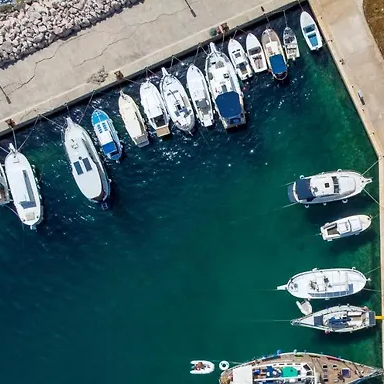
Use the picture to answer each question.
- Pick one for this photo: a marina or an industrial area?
marina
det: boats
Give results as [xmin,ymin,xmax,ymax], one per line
[282,27,302,64]
[219,348,384,384]
[262,27,290,81]
[187,64,218,131]
[300,11,323,55]
[245,32,271,78]
[142,75,172,140]
[59,112,112,209]
[274,266,372,301]
[2,142,43,229]
[286,168,374,206]
[292,303,373,335]
[0,162,12,206]
[319,215,371,242]
[294,298,311,313]
[229,38,255,83]
[94,110,124,163]
[205,37,251,137]
[117,87,151,149]
[190,359,216,374]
